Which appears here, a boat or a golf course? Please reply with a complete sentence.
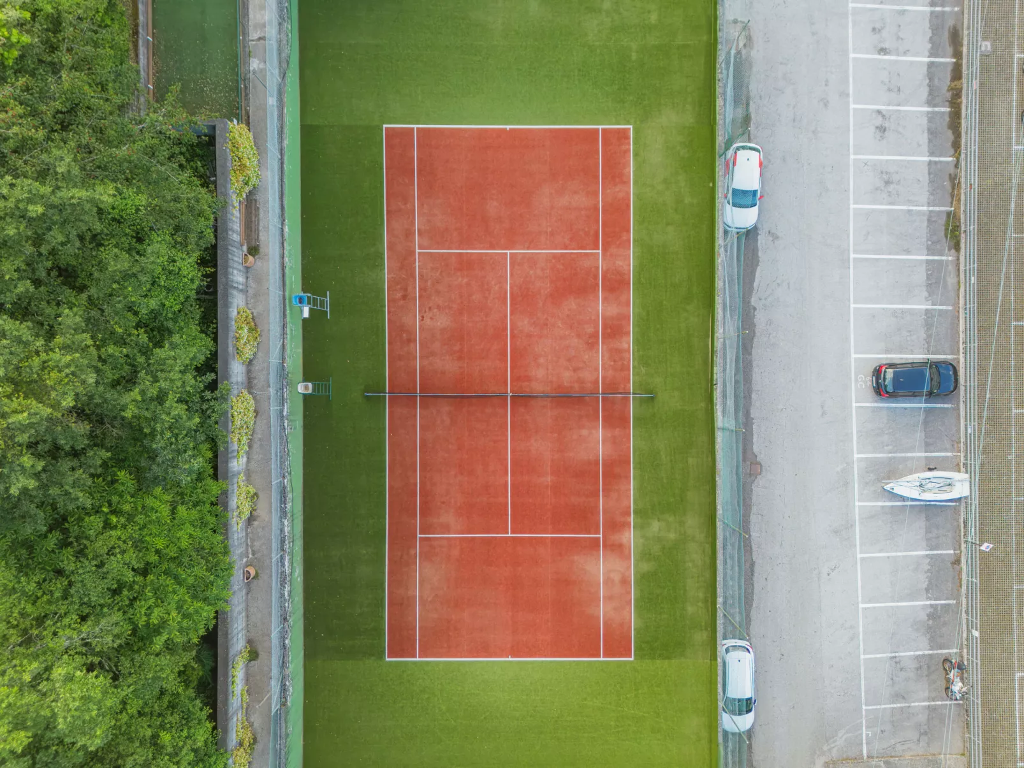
This aerial view contains a boat.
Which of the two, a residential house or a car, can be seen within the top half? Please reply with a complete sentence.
The one visible within the top half is a car.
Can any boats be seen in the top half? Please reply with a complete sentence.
No, I can find no boat in the top half.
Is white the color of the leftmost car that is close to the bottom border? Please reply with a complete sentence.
Yes, the leftmost car that is close to the bottom border appears white.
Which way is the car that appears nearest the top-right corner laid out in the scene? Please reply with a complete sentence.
The car that appears nearest the top-right corner has been laid out from top to bottom relative to the frame.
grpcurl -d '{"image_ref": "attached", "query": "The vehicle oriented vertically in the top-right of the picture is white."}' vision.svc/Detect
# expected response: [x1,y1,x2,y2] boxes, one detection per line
[725,144,767,232]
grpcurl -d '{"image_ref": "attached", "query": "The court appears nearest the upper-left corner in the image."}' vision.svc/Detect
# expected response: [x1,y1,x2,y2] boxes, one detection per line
[148,0,247,125]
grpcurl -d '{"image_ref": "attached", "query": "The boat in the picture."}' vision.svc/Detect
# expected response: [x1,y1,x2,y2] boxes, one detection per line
[882,468,971,504]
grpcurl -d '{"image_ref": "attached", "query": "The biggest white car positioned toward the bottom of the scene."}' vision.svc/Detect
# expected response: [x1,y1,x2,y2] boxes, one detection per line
[725,638,763,731]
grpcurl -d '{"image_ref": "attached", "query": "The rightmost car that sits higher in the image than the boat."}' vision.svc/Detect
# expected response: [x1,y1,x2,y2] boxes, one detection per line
[871,356,960,402]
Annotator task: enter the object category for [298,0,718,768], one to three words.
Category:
tennis court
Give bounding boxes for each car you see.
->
[725,638,763,731]
[725,144,767,232]
[871,356,960,402]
